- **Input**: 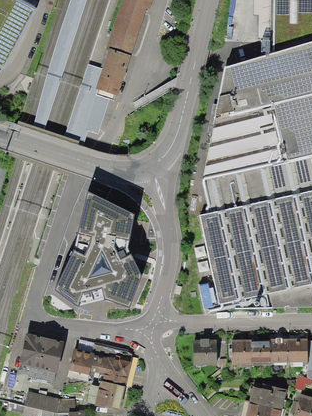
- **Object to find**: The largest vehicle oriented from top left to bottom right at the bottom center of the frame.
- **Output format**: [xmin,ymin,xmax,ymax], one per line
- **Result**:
[162,380,186,402]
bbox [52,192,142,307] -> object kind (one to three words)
building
